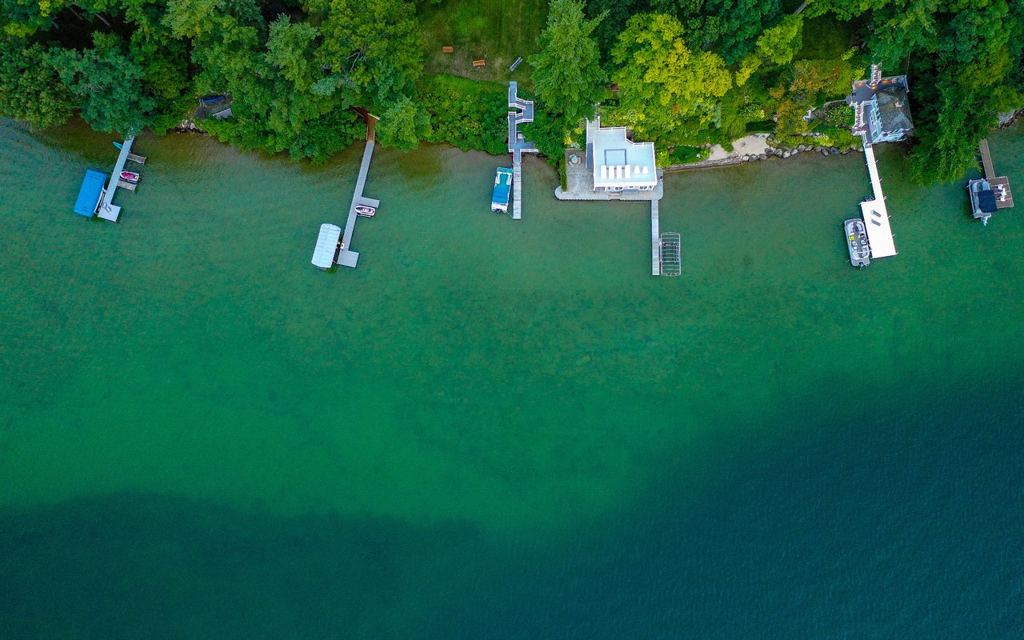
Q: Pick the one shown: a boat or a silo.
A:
boat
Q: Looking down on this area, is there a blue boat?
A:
Yes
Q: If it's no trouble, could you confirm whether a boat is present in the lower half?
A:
No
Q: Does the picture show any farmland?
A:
No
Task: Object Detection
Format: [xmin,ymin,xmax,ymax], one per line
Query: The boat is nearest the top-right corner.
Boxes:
[972,178,1002,221]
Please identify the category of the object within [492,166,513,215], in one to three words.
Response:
boat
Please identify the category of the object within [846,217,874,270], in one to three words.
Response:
boat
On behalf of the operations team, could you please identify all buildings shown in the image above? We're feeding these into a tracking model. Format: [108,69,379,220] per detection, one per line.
[587,115,658,196]
[870,87,915,142]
